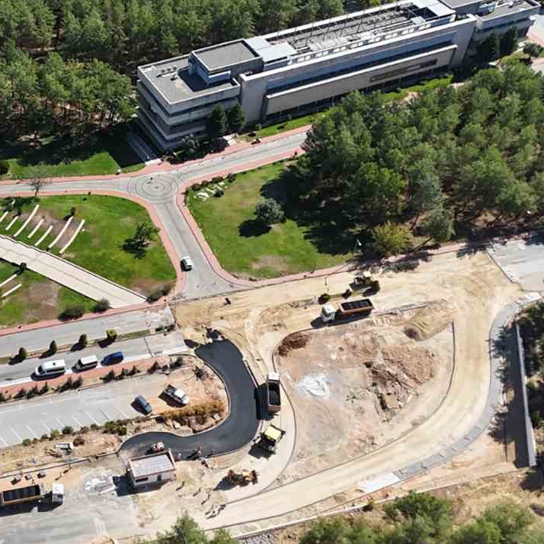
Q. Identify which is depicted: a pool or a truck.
truck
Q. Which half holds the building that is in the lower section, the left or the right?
left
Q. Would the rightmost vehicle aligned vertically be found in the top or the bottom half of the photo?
bottom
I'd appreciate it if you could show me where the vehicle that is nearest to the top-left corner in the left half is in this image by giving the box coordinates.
[180,256,193,272]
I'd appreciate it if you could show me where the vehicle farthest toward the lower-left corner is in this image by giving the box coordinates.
[0,479,66,514]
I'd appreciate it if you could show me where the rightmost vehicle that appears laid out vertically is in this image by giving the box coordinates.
[264,369,284,419]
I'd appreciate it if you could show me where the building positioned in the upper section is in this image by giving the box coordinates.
[120,0,539,159]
